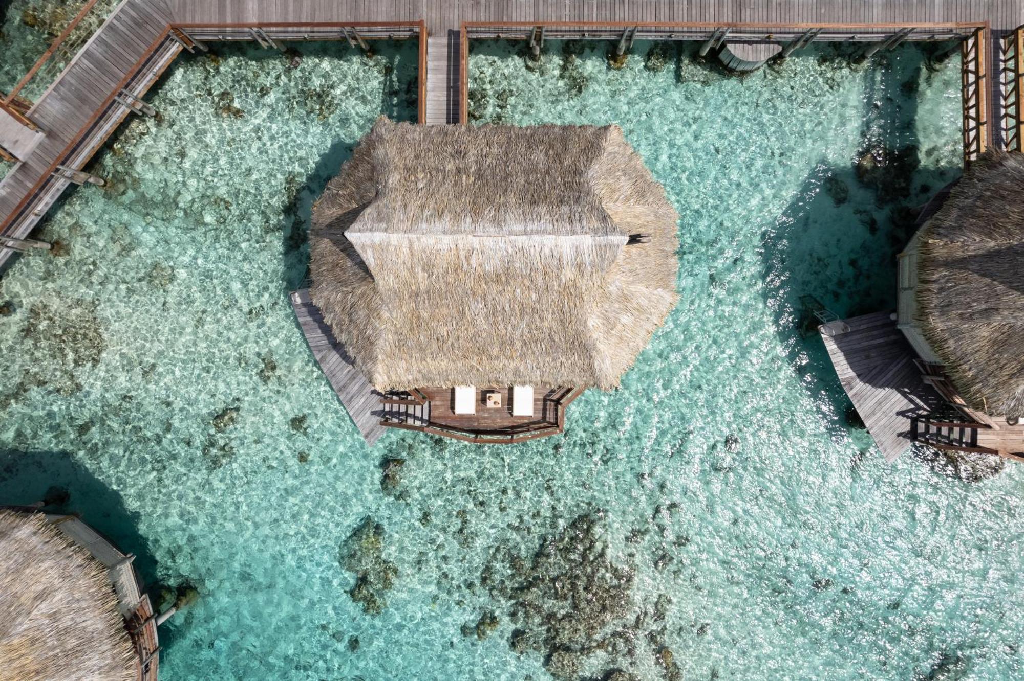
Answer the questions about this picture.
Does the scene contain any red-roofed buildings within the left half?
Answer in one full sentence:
No, no red-roofed building appears within the left half.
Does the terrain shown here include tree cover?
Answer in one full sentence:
No, tree cover can't be seen anywhere here.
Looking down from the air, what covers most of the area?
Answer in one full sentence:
Most of the picture is covered by water.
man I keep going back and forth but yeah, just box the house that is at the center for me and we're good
[292,118,680,444]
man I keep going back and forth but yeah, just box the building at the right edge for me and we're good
[812,149,1024,470]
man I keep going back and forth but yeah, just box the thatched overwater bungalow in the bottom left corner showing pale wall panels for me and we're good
[0,505,164,681]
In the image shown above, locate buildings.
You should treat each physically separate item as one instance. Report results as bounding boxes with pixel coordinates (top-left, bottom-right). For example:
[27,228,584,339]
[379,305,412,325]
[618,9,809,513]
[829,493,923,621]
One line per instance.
[0,505,164,681]
[812,149,1024,470]
[292,118,680,444]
